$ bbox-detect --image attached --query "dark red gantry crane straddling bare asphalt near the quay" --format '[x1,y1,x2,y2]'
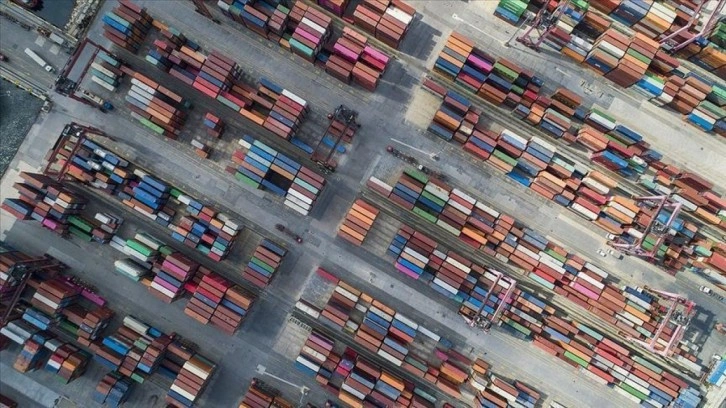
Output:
[50,35,133,114]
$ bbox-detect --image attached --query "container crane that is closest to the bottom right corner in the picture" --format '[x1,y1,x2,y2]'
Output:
[615,285,699,363]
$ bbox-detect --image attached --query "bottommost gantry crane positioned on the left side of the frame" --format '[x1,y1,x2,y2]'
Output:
[0,254,71,328]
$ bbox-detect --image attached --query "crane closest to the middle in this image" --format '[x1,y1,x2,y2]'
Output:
[313,106,367,177]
